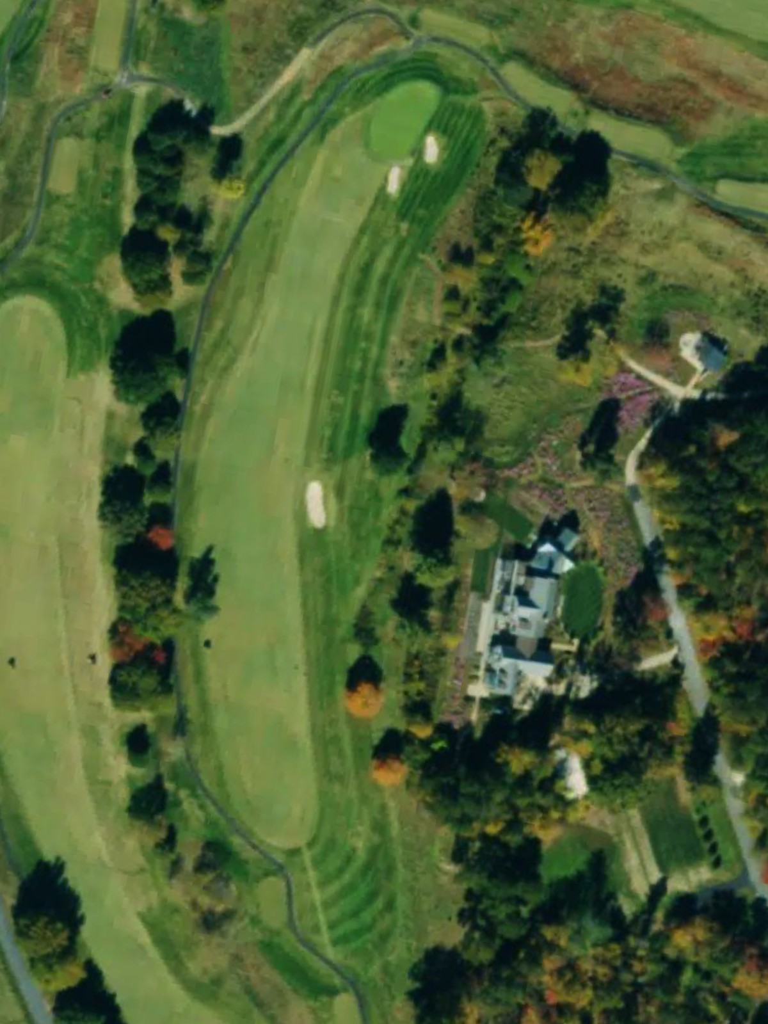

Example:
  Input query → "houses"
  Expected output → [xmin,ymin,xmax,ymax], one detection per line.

[698,332,728,376]
[484,542,572,697]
